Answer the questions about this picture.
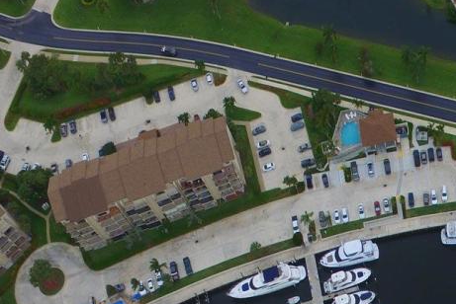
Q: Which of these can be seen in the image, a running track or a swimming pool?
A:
swimming pool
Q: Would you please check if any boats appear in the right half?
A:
Yes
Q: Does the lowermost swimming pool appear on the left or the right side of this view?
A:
right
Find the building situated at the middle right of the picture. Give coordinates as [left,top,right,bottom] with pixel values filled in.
[361,114,396,153]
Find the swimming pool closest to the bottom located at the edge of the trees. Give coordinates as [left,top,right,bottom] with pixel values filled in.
[331,107,365,153]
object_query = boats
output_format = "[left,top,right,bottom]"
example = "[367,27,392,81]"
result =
[319,242,383,268]
[328,284,375,304]
[323,268,370,294]
[227,262,309,296]
[436,224,456,247]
